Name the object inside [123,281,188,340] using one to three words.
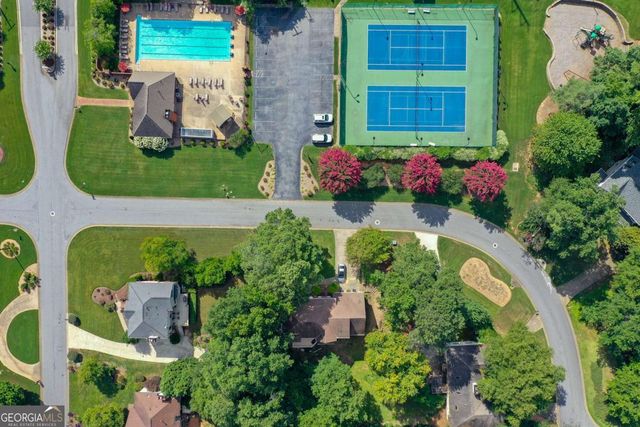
house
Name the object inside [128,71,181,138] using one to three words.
building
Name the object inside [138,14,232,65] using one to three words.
swimming pool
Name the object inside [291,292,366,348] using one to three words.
house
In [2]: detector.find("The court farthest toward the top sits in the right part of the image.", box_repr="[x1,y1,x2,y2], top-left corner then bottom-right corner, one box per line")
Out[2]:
[368,24,467,71]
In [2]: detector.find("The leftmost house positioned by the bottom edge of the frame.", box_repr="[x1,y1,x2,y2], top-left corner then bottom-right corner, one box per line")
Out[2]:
[127,389,181,427]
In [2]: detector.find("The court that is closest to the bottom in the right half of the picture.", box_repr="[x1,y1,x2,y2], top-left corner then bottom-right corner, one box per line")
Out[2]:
[368,86,467,132]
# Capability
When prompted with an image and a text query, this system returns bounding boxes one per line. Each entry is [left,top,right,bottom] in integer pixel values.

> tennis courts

[368,86,467,132]
[368,24,467,71]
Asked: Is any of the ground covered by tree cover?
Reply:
Yes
